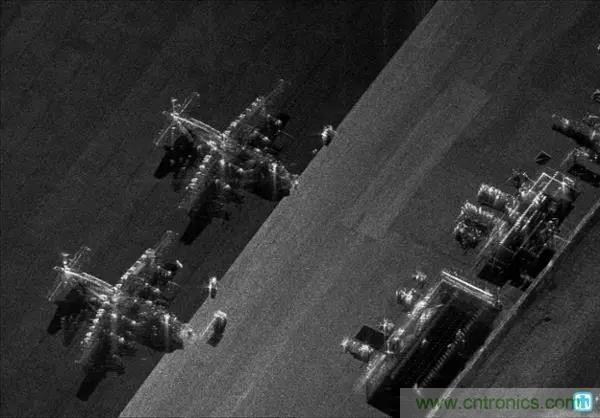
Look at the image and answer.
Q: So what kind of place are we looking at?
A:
airport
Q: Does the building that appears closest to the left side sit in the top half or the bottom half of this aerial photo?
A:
bottom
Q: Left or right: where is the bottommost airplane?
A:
left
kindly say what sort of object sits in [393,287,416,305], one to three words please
vehicle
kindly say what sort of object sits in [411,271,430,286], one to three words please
vehicle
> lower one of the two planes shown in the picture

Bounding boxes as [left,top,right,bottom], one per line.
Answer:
[45,232,186,367]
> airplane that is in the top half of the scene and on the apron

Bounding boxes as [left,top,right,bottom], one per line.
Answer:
[154,81,293,212]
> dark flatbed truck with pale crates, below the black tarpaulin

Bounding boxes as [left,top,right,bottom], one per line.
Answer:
[341,339,377,365]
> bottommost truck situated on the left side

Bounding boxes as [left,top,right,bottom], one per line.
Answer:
[197,310,226,341]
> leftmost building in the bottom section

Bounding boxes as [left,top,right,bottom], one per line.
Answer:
[363,273,502,418]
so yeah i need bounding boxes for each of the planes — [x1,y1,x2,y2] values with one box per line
[45,232,186,367]
[154,81,293,212]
